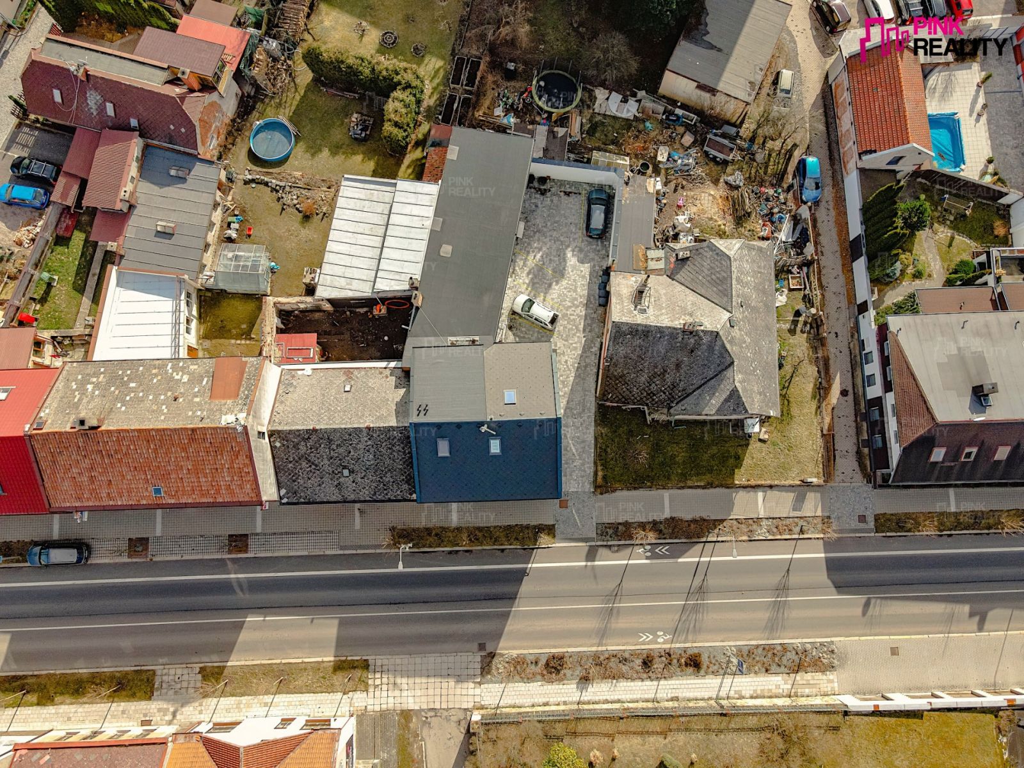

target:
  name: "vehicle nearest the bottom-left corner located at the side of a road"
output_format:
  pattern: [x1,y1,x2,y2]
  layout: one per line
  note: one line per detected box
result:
[32,540,89,566]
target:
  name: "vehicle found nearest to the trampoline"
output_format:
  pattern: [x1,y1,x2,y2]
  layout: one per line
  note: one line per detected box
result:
[584,188,609,239]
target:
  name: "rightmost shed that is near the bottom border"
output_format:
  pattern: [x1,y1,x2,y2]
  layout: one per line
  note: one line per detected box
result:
[356,703,402,768]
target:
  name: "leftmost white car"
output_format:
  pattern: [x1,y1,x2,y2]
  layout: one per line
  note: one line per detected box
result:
[509,291,563,332]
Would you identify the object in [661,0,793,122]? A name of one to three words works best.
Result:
building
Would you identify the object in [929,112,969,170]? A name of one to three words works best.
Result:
swimming pool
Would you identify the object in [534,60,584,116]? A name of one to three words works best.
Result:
trampoline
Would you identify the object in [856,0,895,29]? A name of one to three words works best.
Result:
car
